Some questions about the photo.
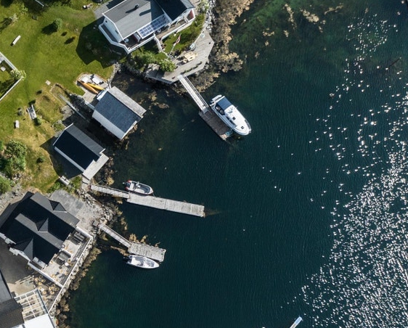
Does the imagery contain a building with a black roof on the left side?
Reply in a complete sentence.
Yes, a building with a black roof is visible on the left side.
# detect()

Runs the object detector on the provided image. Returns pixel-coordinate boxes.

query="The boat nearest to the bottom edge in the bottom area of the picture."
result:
[124,253,159,269]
